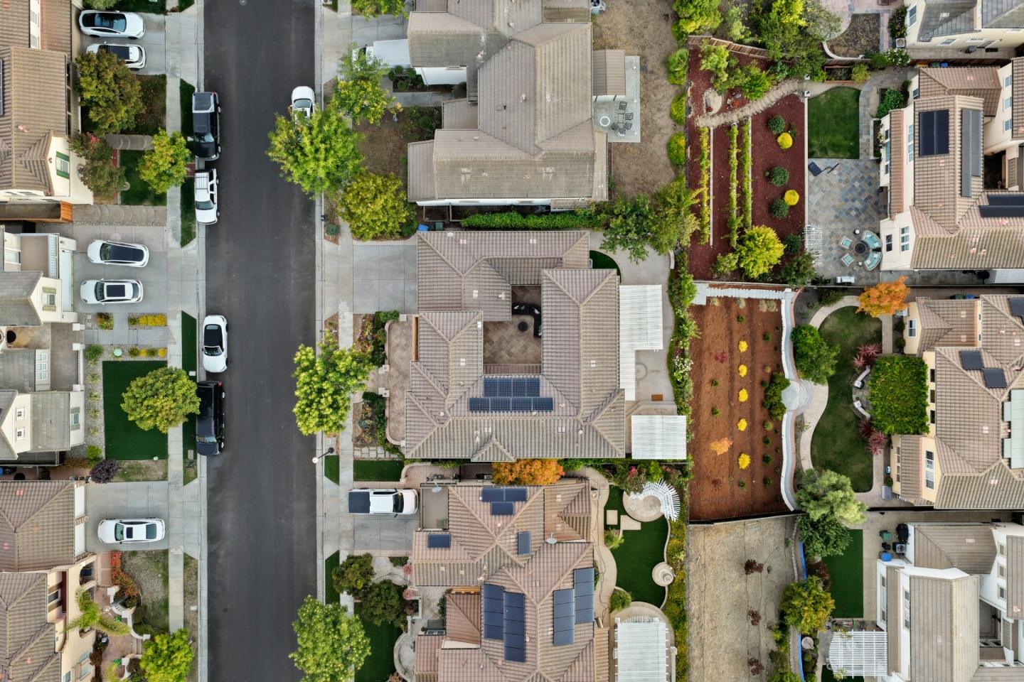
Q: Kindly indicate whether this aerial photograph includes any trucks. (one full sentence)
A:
Yes, this view includes a truck.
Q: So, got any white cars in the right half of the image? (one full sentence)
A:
No, no white car is visible in the right half of the image.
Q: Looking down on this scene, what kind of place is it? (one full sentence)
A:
It's a residential area.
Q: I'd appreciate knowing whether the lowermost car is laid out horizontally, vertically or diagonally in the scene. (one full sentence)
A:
The lowermost car runs horizontally in the image.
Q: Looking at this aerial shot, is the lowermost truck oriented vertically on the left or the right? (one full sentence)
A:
The lowermost truck oriented vertically is on the left side of the image.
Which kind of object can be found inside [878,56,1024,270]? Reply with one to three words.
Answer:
house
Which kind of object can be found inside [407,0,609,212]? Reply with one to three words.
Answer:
house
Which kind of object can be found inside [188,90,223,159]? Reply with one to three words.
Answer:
vehicle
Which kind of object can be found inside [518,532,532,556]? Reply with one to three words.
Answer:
solar panel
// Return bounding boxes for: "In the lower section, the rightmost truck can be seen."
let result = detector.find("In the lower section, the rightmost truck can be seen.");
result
[348,487,417,519]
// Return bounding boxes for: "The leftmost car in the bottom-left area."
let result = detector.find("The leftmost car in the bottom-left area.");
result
[101,517,165,546]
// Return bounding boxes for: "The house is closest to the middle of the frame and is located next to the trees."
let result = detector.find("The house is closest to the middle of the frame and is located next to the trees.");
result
[404,230,626,463]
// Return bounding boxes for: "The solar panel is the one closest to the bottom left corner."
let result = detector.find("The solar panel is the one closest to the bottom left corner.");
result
[427,533,451,549]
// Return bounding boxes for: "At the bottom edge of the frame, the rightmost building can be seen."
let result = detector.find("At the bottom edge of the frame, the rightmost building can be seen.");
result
[875,520,1024,682]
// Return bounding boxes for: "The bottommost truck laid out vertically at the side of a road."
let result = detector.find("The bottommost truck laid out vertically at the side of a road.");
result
[192,382,227,455]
